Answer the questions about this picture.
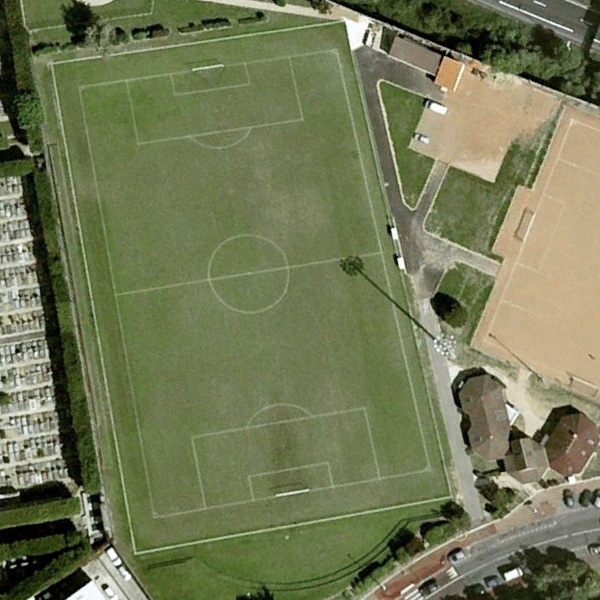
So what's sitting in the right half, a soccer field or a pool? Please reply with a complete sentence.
Visible in the right half is a soccer field.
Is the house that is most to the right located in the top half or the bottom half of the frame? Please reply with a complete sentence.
It is in the bottom half that the house that is most to the right appears.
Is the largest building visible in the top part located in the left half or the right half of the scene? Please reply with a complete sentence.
You can find the largest building visible in the top part on the right side of the picture.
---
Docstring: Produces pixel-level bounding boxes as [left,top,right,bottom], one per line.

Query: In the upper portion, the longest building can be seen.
[390,36,444,76]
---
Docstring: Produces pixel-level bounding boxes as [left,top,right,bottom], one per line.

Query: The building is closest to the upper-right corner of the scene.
[436,56,466,91]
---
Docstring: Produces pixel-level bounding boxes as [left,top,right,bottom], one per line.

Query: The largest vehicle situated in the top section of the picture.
[424,100,447,114]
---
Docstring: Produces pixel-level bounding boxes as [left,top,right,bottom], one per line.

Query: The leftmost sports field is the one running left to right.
[22,0,156,32]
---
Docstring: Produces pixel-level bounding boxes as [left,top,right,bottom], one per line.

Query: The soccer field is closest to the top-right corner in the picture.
[470,104,600,401]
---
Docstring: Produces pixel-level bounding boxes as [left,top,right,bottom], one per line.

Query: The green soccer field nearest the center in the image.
[48,24,450,554]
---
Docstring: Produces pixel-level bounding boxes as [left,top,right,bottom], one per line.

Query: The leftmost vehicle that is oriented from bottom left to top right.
[421,580,439,595]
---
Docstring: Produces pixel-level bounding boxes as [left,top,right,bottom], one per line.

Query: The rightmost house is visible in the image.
[545,412,600,476]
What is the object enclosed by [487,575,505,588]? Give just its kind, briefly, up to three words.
vehicle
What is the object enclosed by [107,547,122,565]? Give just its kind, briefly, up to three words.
vehicle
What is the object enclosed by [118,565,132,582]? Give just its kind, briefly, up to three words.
car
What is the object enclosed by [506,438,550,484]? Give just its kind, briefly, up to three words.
house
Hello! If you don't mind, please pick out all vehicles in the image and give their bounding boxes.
[448,551,466,564]
[594,489,600,509]
[503,568,521,582]
[564,489,575,509]
[581,488,591,507]
[588,546,600,555]
[487,575,505,588]
[424,100,447,114]
[104,586,118,600]
[118,565,132,582]
[421,580,439,595]
[107,547,122,565]
[414,133,431,145]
